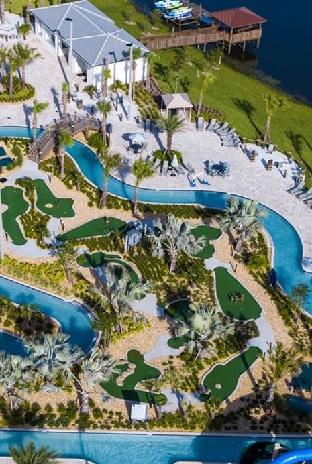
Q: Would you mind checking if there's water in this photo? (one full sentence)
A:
Yes, water can be seen from above here.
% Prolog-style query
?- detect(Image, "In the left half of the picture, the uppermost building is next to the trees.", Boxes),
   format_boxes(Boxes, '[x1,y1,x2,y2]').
[30,0,150,83]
